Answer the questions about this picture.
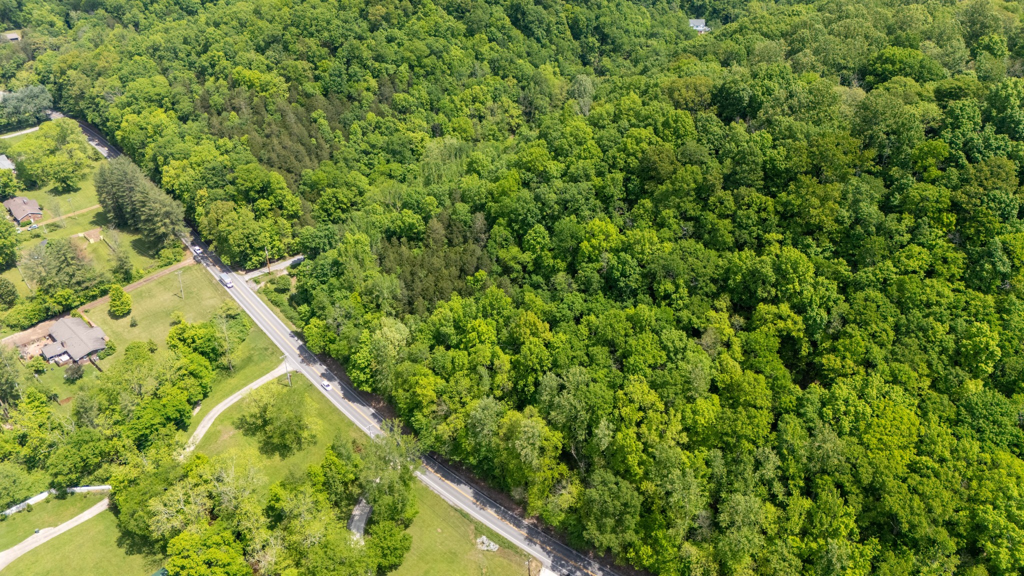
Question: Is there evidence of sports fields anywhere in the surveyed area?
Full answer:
No, the picture doesn't show any sports field.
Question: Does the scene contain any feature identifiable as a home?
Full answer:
Yes, this view includes a home.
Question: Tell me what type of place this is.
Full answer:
The area seen from above is a forest.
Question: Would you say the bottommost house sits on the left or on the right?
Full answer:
The bottommost house is on the left side of the image.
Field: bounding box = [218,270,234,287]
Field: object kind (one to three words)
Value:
vehicle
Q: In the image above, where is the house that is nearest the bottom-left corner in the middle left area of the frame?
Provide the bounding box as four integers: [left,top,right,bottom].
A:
[41,321,109,367]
